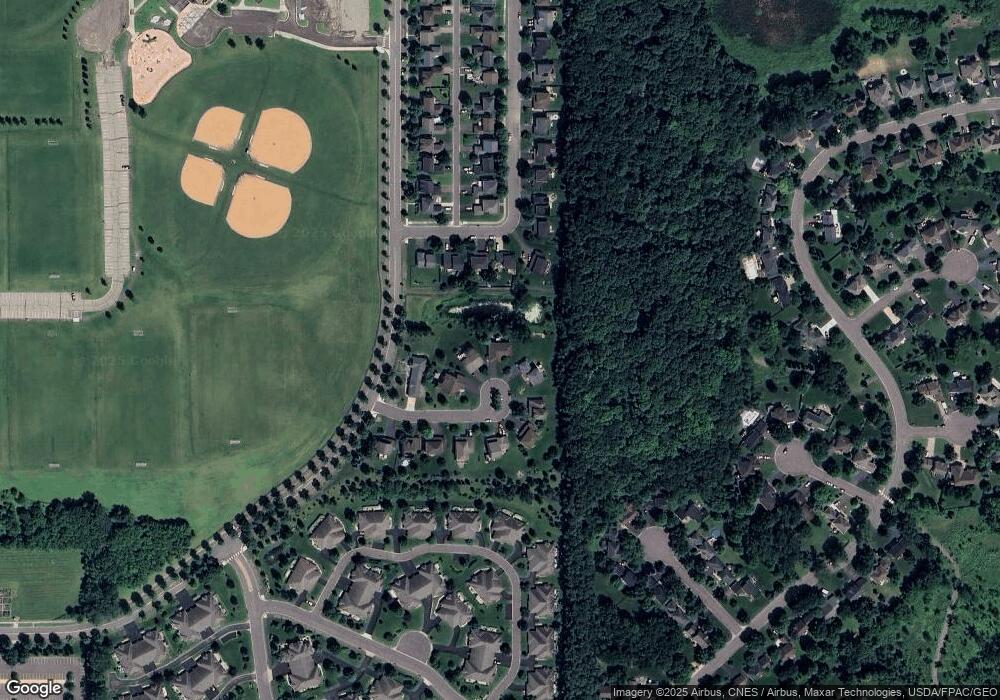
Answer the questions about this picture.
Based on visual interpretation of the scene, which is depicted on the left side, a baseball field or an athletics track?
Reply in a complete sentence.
You can see a baseball field on the left side.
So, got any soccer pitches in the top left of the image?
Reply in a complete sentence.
Yes, I can see a soccer pitch in the top left of the image.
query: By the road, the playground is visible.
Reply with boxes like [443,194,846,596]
[128,29,192,104]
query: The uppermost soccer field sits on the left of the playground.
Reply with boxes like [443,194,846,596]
[0,62,70,114]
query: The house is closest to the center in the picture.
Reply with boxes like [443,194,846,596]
[489,339,512,364]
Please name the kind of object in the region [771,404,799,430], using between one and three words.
house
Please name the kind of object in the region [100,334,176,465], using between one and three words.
soccer field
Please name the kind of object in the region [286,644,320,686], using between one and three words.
house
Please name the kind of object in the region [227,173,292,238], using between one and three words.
baseball field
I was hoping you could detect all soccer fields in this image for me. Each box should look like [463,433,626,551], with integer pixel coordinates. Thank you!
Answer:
[9,144,96,274]
[10,334,92,465]
[0,62,70,114]
[100,334,176,465]
[192,312,280,444]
